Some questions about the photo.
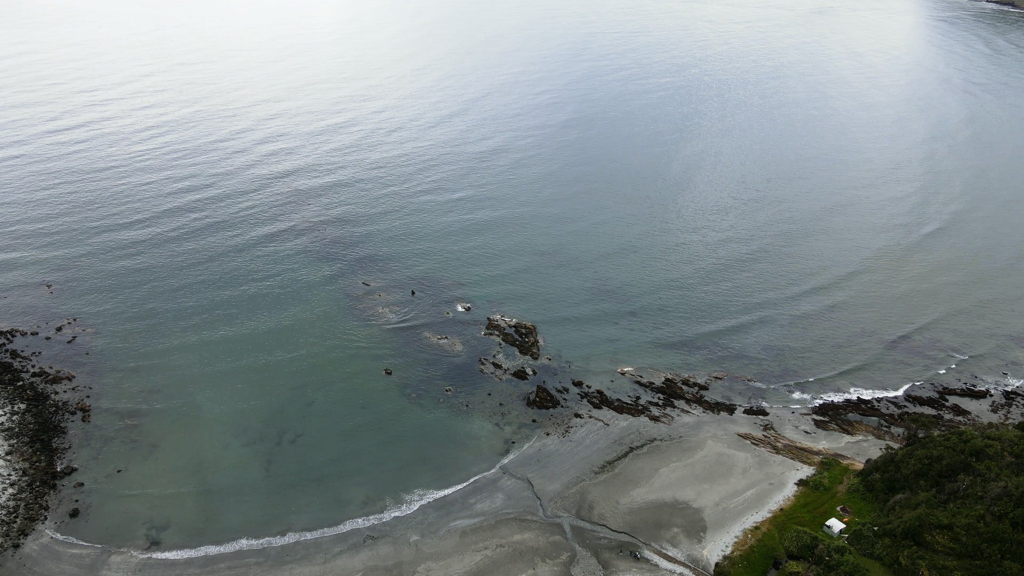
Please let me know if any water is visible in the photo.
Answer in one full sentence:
Yes, water can be seen from above here.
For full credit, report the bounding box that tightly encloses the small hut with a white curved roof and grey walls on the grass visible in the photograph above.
[823,516,846,539]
